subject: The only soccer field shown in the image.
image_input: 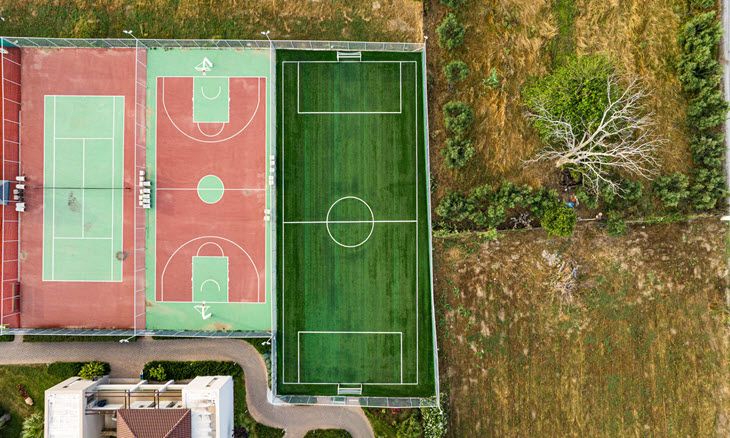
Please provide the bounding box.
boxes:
[277,49,435,397]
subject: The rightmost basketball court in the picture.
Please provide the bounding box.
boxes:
[146,47,271,332]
